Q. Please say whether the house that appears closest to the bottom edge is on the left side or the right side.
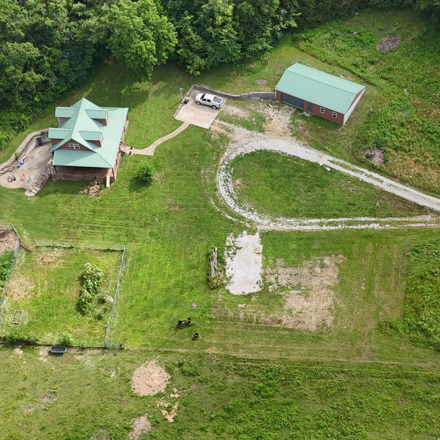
left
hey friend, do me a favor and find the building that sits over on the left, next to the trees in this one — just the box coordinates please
[49,97,132,192]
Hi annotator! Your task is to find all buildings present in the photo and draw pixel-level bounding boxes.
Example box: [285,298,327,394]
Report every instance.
[49,97,132,192]
[274,58,365,125]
